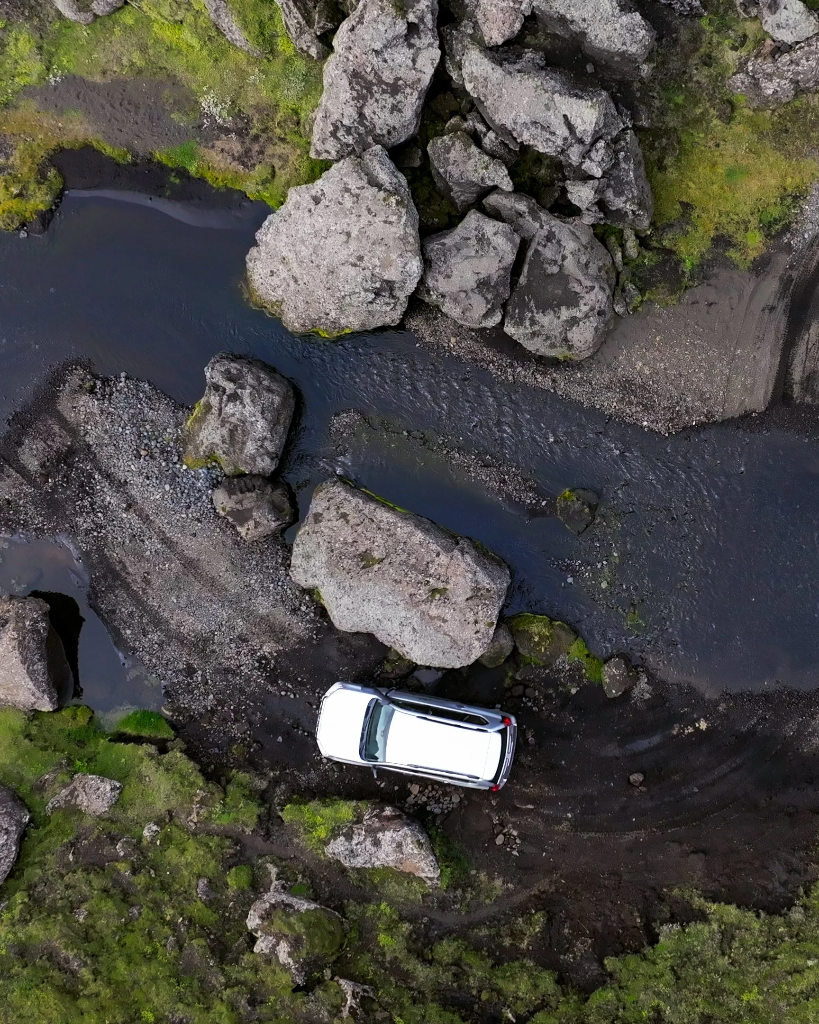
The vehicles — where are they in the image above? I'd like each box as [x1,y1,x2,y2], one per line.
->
[317,681,517,793]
